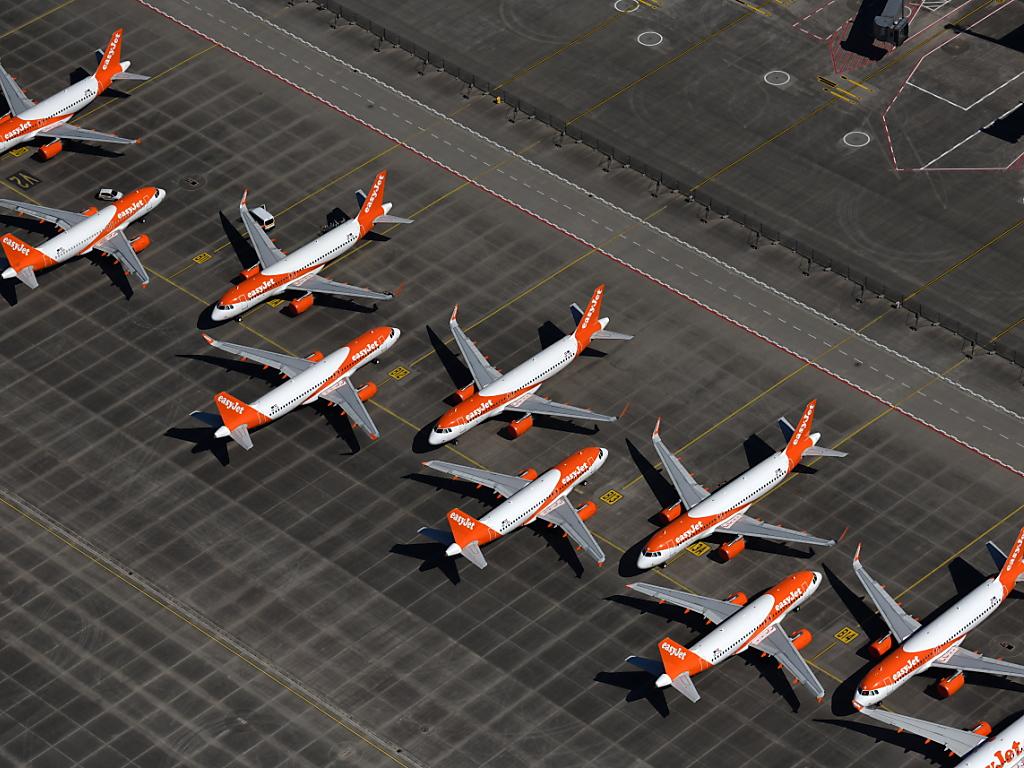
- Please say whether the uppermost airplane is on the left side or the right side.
left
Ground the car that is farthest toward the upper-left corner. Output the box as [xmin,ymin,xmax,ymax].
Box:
[98,188,122,201]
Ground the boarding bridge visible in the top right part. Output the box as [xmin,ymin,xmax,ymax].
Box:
[873,0,911,47]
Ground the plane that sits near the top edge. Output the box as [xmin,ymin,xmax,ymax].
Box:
[0,30,152,162]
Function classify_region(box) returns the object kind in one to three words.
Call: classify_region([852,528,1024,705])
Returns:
airplane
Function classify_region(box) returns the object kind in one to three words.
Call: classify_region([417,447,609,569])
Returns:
airplane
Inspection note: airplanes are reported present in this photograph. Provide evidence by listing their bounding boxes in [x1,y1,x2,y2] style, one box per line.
[852,528,1024,705]
[417,447,609,569]
[0,187,168,288]
[191,326,401,449]
[0,30,152,162]
[626,571,826,702]
[210,169,415,320]
[427,284,636,445]
[636,399,848,569]
[859,705,1024,768]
